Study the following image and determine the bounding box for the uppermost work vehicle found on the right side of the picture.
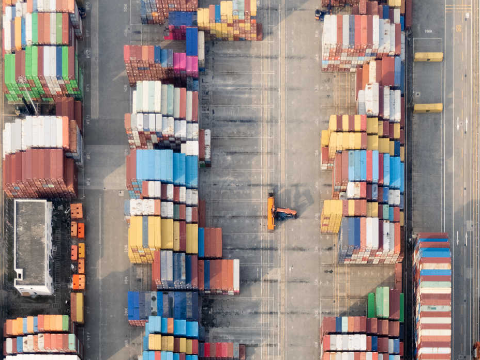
[312,0,329,21]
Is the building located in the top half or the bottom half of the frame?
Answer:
bottom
